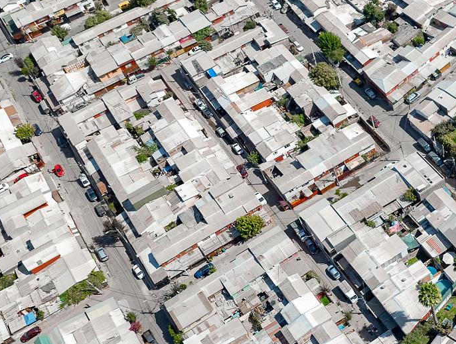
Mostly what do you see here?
buildings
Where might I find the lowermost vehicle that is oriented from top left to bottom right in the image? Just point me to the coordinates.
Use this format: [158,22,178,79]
[139,327,162,344]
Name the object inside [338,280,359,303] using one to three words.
vehicle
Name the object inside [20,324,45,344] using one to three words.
car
